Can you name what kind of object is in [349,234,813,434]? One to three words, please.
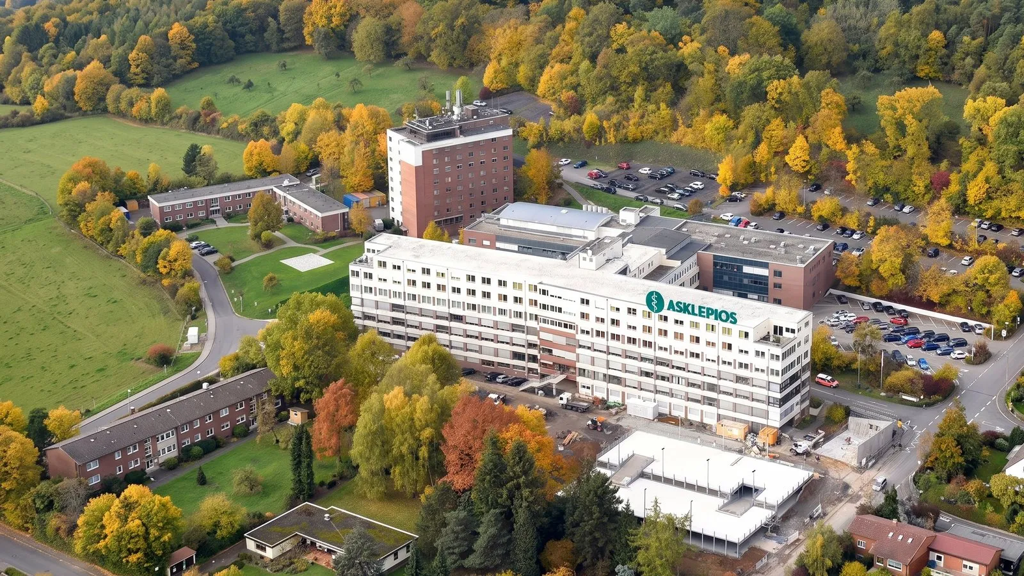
building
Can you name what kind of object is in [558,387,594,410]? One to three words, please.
truck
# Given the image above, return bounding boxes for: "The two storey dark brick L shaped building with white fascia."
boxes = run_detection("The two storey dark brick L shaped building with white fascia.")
[145,170,353,231]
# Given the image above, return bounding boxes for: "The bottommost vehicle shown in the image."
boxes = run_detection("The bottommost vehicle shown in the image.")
[871,473,888,491]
